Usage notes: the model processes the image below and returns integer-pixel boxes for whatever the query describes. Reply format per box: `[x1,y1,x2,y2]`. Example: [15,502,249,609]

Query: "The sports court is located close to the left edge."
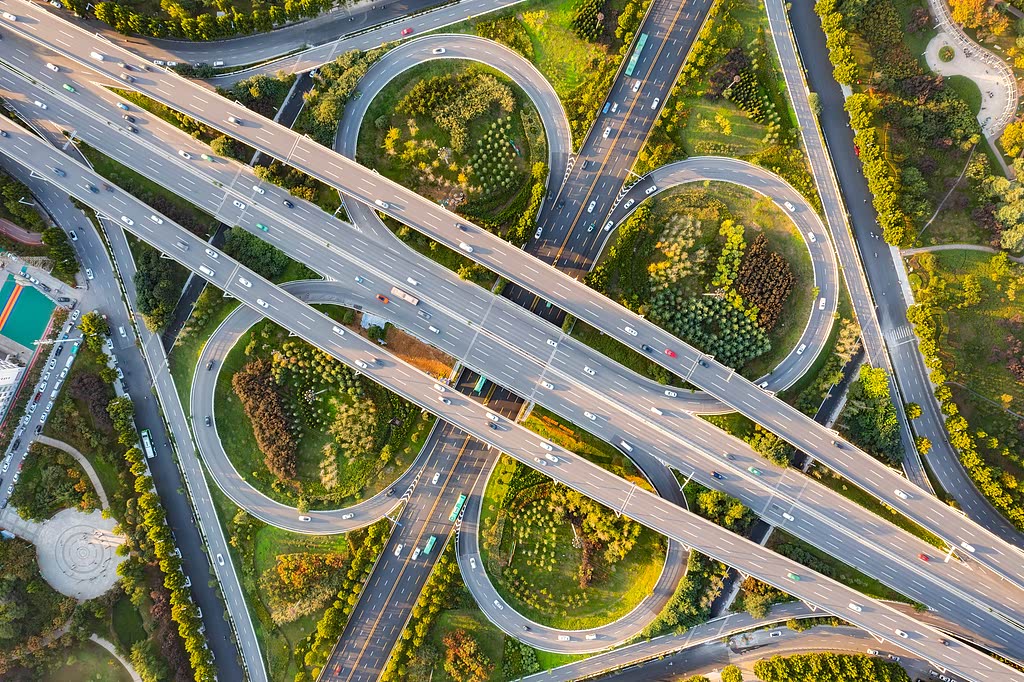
[0,266,57,350]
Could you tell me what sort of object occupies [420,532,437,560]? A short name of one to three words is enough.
vehicle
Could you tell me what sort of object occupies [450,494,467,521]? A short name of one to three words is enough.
vehicle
